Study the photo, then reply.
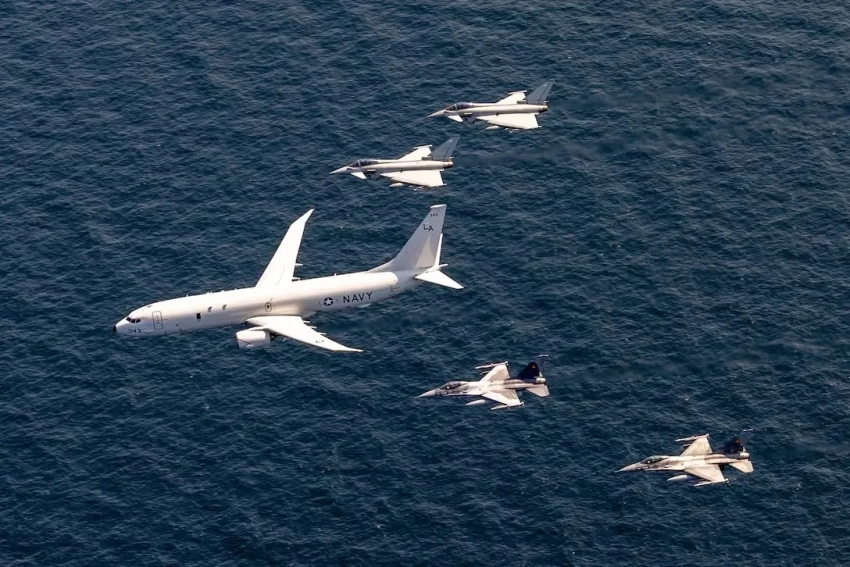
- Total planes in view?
five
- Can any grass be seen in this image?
No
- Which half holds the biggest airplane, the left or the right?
left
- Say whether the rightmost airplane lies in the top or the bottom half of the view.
bottom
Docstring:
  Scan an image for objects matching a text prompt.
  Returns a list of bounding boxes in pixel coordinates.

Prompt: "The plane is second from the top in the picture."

[333,135,460,188]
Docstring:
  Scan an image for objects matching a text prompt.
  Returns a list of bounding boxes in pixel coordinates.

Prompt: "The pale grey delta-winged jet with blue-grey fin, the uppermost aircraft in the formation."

[428,81,554,132]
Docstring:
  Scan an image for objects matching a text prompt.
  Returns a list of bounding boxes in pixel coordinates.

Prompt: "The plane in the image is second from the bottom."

[418,354,550,408]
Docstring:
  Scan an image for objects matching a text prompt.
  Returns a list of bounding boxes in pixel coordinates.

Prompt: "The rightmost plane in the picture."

[618,429,754,486]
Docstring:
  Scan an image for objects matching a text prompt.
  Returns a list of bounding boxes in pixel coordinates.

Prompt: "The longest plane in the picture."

[113,205,464,352]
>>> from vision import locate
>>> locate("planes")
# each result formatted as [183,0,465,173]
[428,81,554,132]
[113,205,464,352]
[333,135,460,188]
[618,429,754,486]
[418,354,550,408]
